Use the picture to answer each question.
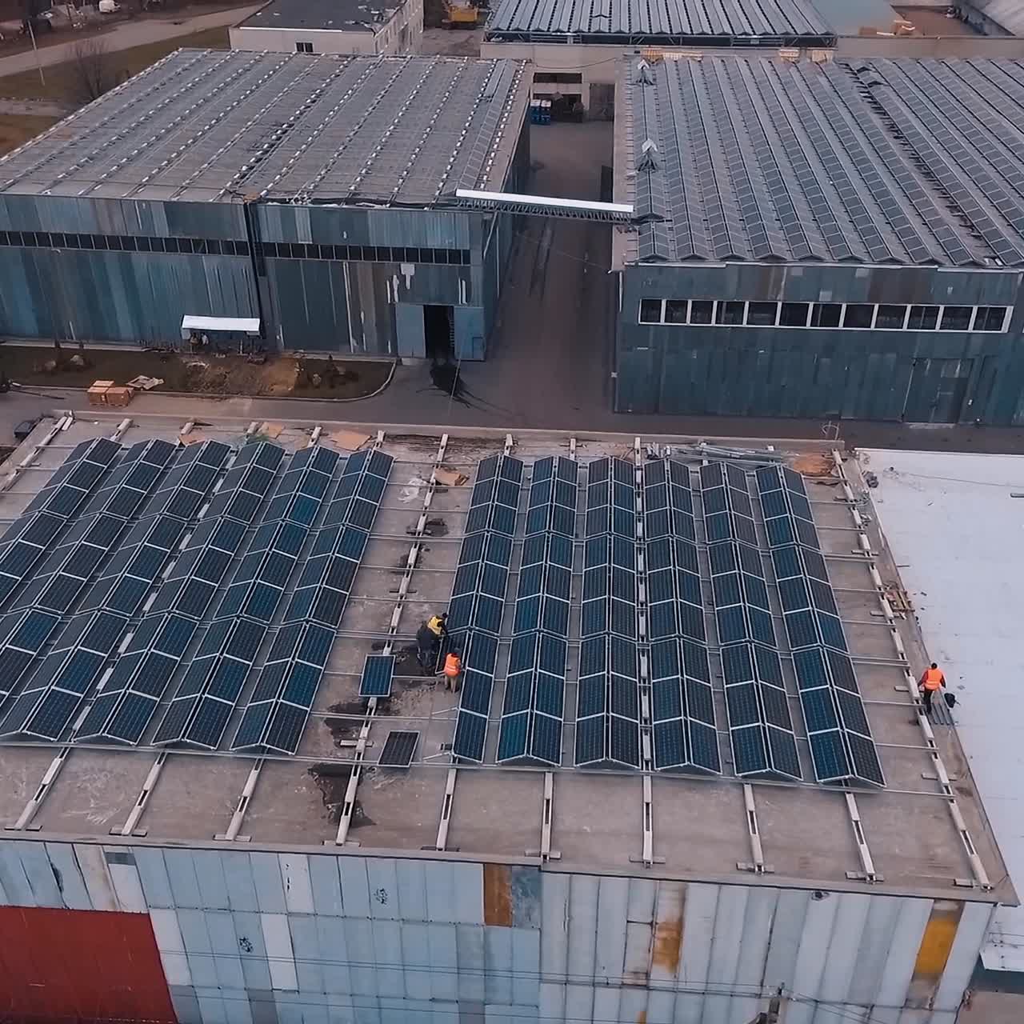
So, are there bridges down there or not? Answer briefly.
Yes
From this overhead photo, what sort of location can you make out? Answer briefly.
industrial area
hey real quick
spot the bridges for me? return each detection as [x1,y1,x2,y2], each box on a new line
[453,188,636,238]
